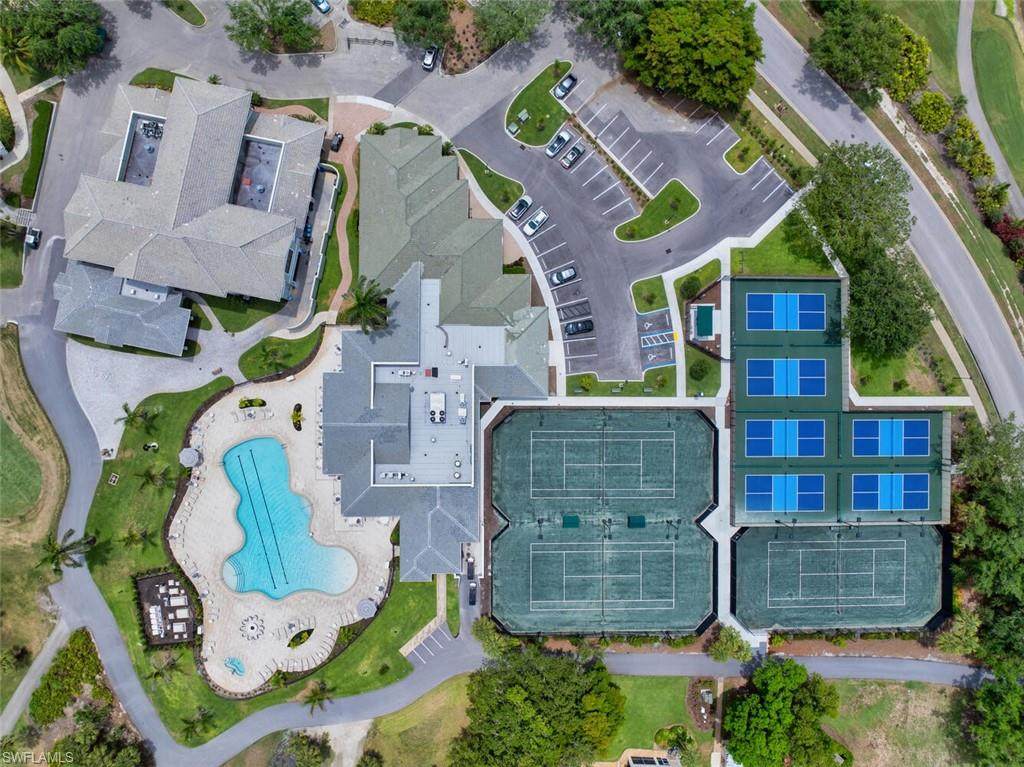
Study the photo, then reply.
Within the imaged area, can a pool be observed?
Yes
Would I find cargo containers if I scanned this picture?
No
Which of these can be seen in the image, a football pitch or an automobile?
automobile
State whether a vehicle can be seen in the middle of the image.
Yes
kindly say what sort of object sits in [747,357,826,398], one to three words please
sports court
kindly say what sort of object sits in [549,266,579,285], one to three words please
car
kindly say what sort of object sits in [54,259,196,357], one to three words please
building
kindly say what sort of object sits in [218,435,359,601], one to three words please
swimming pool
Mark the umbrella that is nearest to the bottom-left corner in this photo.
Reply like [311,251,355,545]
[180,448,198,466]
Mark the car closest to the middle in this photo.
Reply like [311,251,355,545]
[564,319,594,335]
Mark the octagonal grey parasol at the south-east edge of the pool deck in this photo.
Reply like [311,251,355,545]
[358,599,376,617]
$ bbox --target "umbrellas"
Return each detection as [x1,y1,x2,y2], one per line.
[358,599,376,617]
[180,448,198,466]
